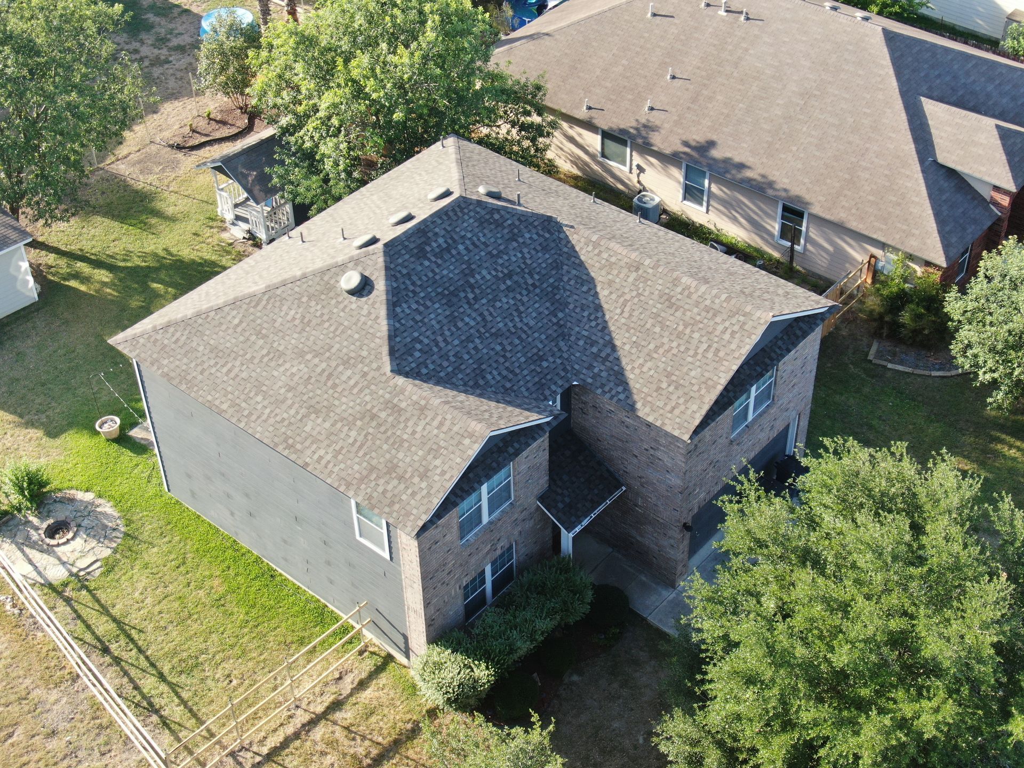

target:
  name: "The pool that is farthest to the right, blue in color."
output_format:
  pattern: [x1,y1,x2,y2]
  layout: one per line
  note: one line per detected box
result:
[496,0,567,34]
